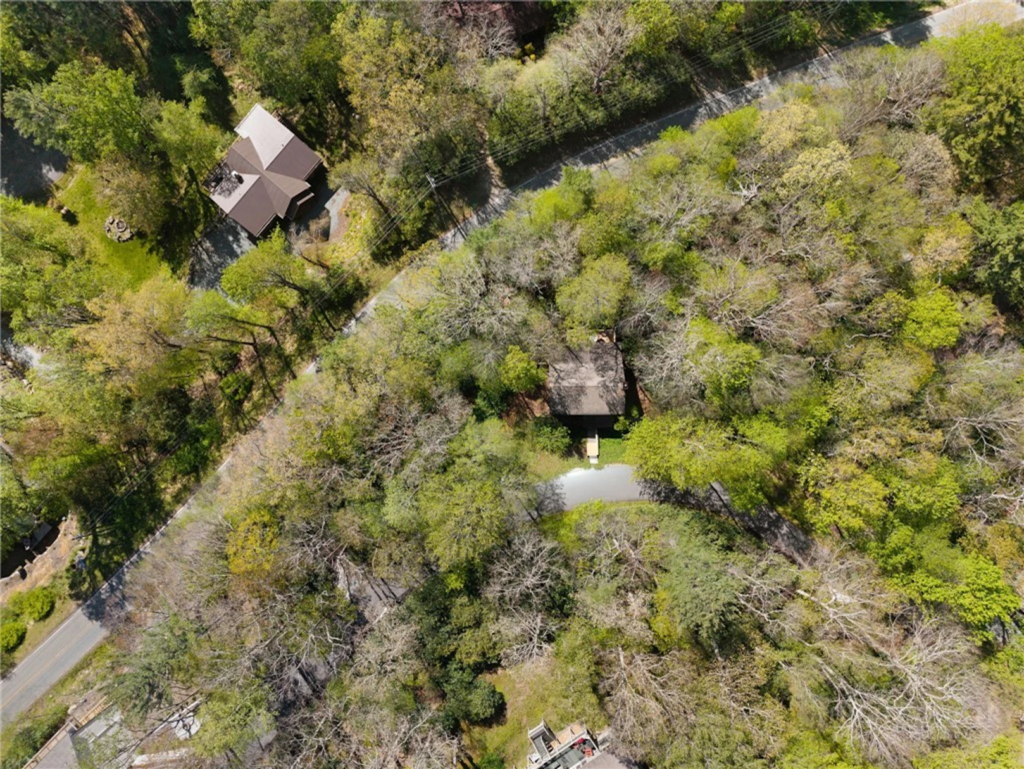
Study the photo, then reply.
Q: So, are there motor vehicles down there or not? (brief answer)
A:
No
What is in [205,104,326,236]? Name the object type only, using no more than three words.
house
